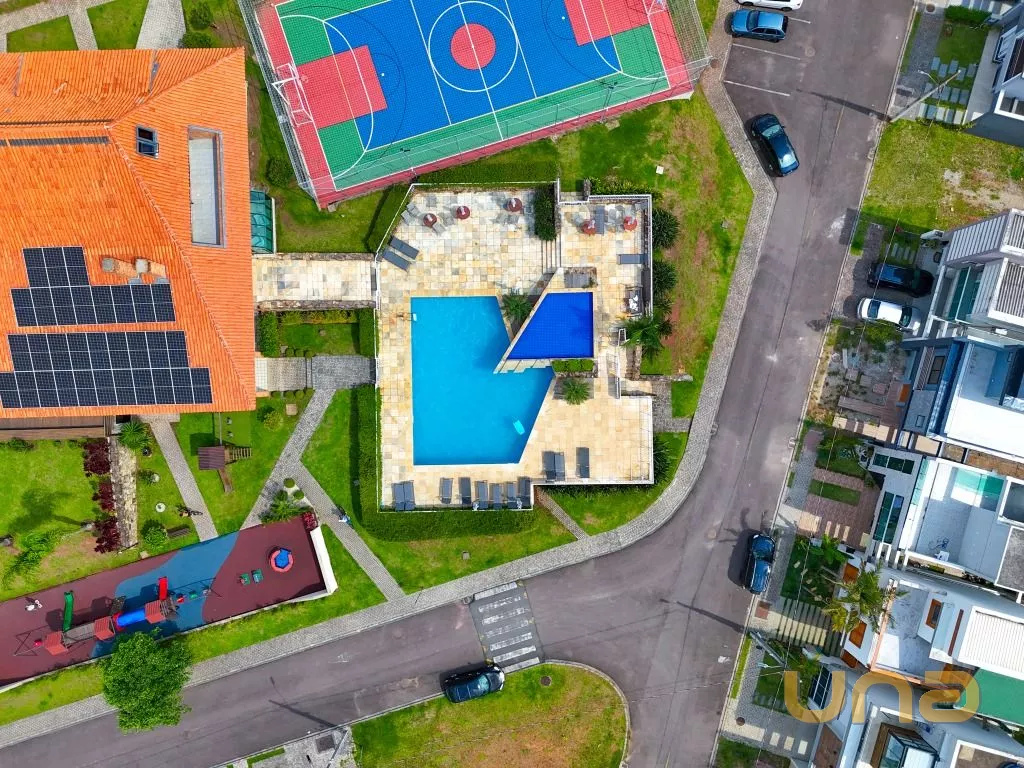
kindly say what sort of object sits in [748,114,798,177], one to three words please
car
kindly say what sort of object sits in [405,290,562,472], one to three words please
swimming pool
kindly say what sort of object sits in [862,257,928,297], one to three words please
car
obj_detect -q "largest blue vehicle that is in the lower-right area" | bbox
[735,526,774,591]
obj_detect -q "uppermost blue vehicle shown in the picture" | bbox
[726,3,791,42]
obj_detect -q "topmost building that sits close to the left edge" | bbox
[0,45,256,416]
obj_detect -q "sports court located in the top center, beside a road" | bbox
[261,0,697,207]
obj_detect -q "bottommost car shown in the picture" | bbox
[440,662,505,710]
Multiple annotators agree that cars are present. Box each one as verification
[748,114,798,177]
[862,257,928,297]
[740,0,803,11]
[440,662,505,710]
[735,526,774,591]
[854,295,914,333]
[726,3,791,42]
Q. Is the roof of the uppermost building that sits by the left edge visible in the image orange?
Yes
